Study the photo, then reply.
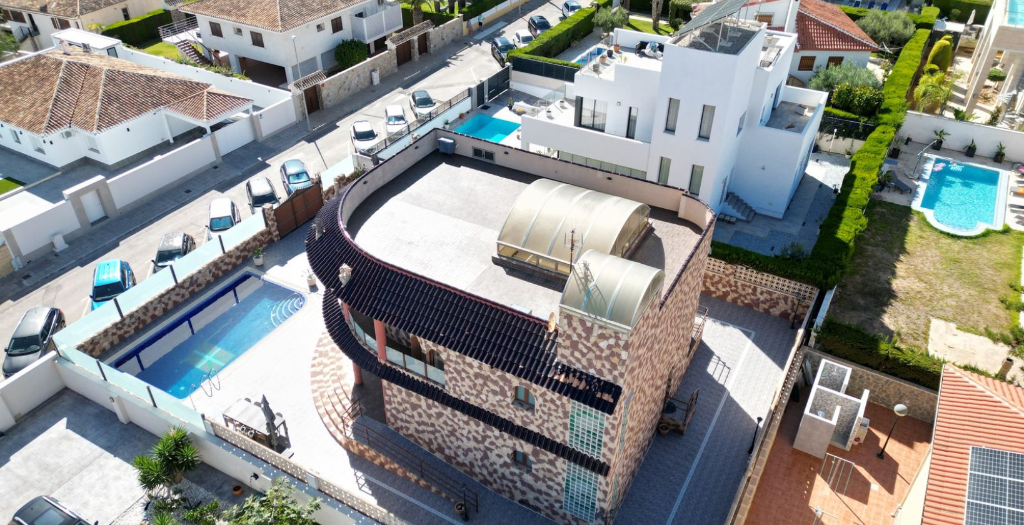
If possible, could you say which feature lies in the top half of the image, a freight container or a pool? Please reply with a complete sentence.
Looking in the top half of the image, you will find a pool.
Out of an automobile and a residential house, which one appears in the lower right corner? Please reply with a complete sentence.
Visible in the lower right corner is a residential house.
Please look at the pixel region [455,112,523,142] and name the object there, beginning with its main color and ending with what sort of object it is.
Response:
blue swimming pool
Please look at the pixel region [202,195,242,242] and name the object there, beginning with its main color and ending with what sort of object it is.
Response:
white car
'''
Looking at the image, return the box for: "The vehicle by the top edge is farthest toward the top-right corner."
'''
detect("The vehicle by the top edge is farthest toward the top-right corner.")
[557,1,582,21]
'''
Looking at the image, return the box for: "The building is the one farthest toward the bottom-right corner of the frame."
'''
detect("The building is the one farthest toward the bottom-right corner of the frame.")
[918,357,1024,525]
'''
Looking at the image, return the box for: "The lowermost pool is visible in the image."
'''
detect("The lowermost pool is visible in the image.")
[99,261,327,407]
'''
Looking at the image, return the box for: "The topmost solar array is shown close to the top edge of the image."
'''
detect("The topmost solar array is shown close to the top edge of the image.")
[671,0,752,48]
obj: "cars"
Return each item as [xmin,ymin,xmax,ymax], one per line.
[524,17,551,39]
[510,33,532,51]
[557,1,582,21]
[353,125,385,154]
[385,107,414,141]
[90,251,137,314]
[247,178,282,215]
[488,43,512,69]
[412,92,441,125]
[283,160,317,192]
[1,307,67,375]
[202,195,242,242]
[153,233,195,272]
